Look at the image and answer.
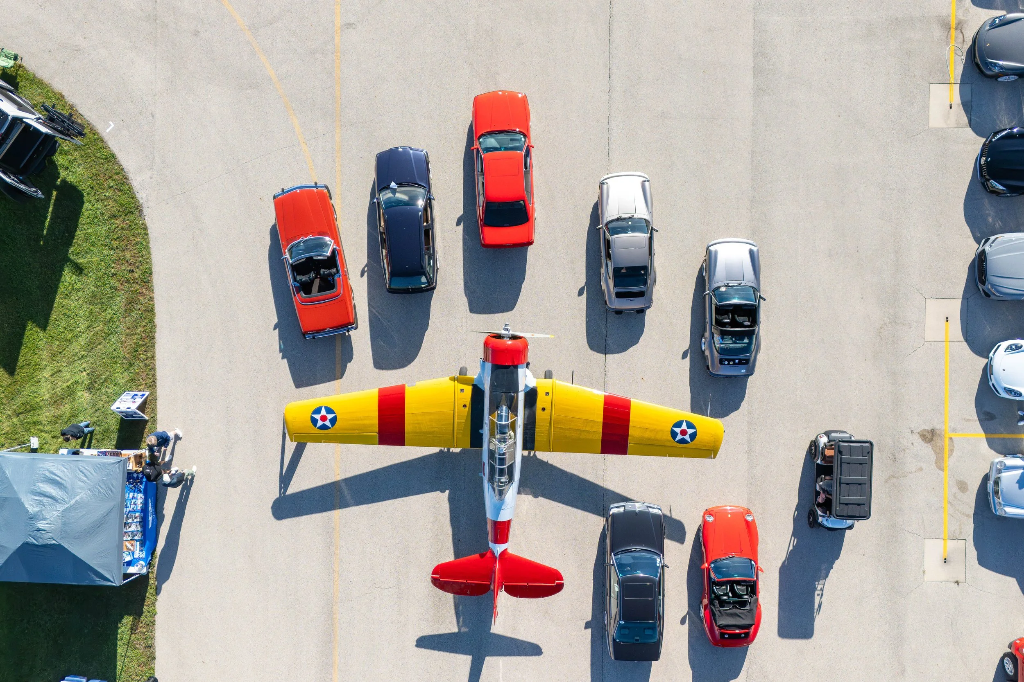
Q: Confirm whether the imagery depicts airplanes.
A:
Yes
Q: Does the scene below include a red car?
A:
Yes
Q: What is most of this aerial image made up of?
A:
paved ground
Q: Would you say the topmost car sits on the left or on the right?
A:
right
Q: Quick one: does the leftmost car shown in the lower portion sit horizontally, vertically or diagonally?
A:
vertically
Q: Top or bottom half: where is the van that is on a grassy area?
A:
top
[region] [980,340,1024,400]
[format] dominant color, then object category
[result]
white car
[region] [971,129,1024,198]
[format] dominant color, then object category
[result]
black car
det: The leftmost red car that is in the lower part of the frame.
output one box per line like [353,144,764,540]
[696,504,767,647]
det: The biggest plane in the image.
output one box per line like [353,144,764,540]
[282,323,725,625]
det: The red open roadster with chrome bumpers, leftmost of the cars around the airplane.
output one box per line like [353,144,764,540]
[272,181,361,340]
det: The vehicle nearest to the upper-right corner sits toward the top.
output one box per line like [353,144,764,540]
[965,13,1024,83]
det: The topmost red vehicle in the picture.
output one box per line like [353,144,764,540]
[469,89,537,249]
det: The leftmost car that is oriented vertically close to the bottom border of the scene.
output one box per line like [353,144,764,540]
[603,500,671,664]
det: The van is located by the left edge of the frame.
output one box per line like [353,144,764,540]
[0,87,82,198]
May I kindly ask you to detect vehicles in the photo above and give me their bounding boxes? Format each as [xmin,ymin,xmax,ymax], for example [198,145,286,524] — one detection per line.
[595,171,661,315]
[698,237,768,377]
[980,340,1024,400]
[603,500,671,664]
[0,87,82,198]
[469,89,537,249]
[982,456,1024,518]
[965,13,1024,83]
[994,640,1024,682]
[806,429,876,530]
[371,146,439,293]
[272,181,361,340]
[968,234,1024,299]
[696,504,767,647]
[971,129,1024,198]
